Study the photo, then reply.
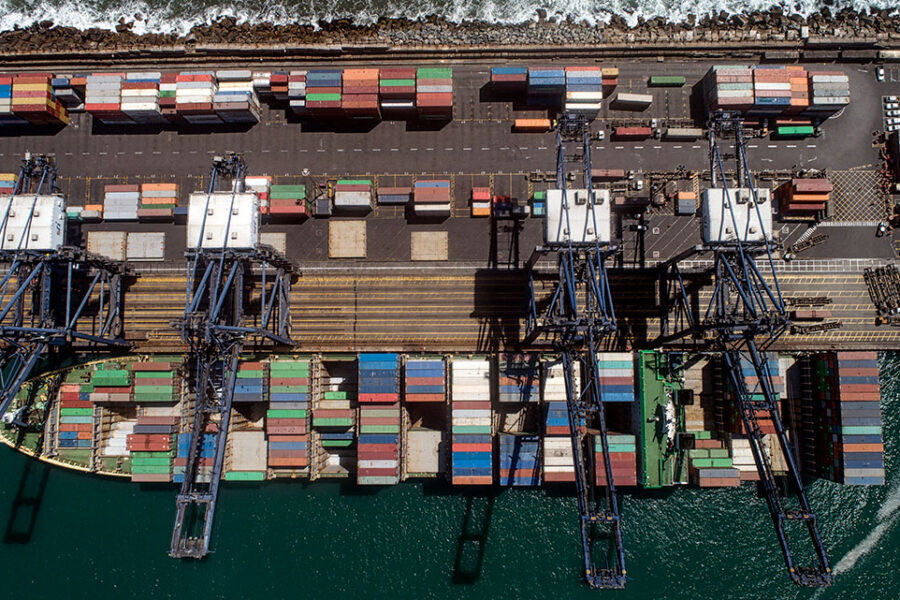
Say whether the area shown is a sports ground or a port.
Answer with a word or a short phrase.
port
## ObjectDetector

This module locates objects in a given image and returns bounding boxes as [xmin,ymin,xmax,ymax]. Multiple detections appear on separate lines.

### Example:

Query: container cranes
[165,148,312,554]
[0,150,152,403]
[515,110,628,591]
[640,108,836,591]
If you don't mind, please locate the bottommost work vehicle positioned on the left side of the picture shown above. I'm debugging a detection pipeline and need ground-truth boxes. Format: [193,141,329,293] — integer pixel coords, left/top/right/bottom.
[320,182,336,217]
